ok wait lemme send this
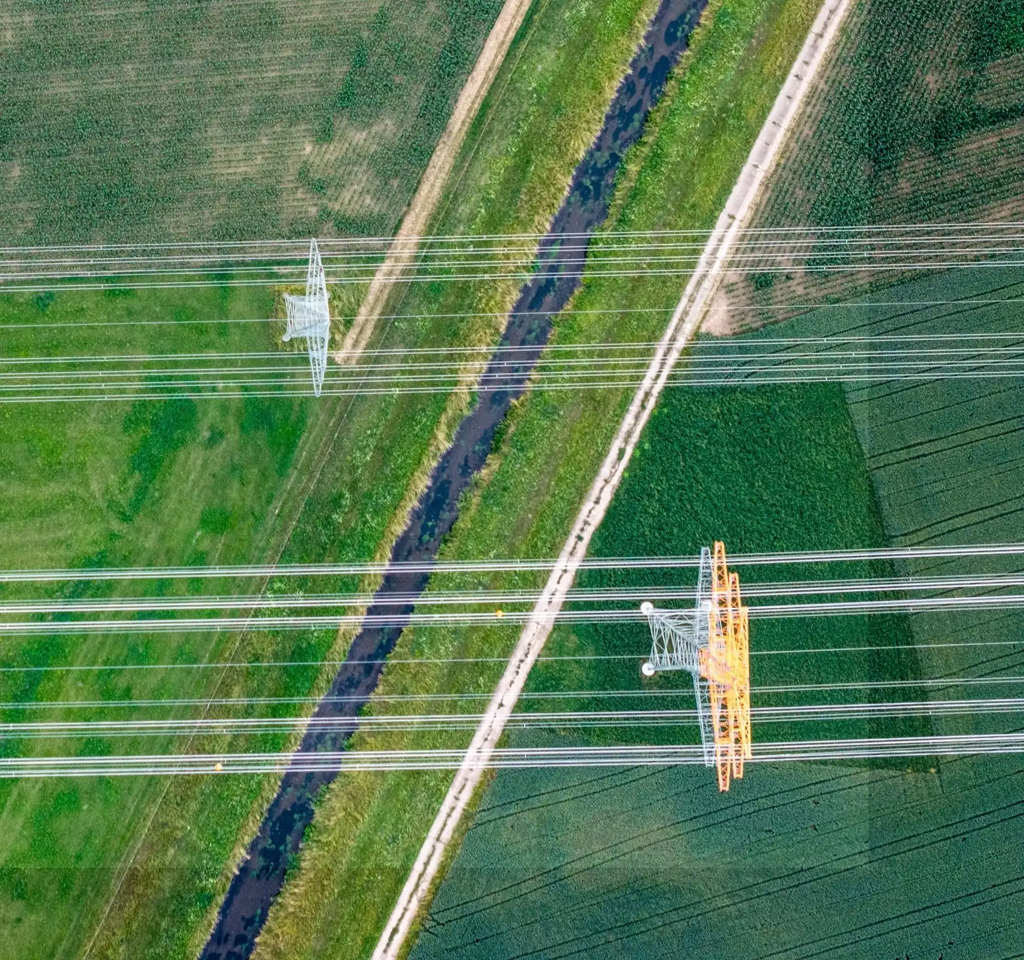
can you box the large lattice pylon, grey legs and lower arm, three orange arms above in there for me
[641,540,754,792]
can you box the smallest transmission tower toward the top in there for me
[281,238,334,397]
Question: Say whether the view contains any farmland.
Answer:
Yes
